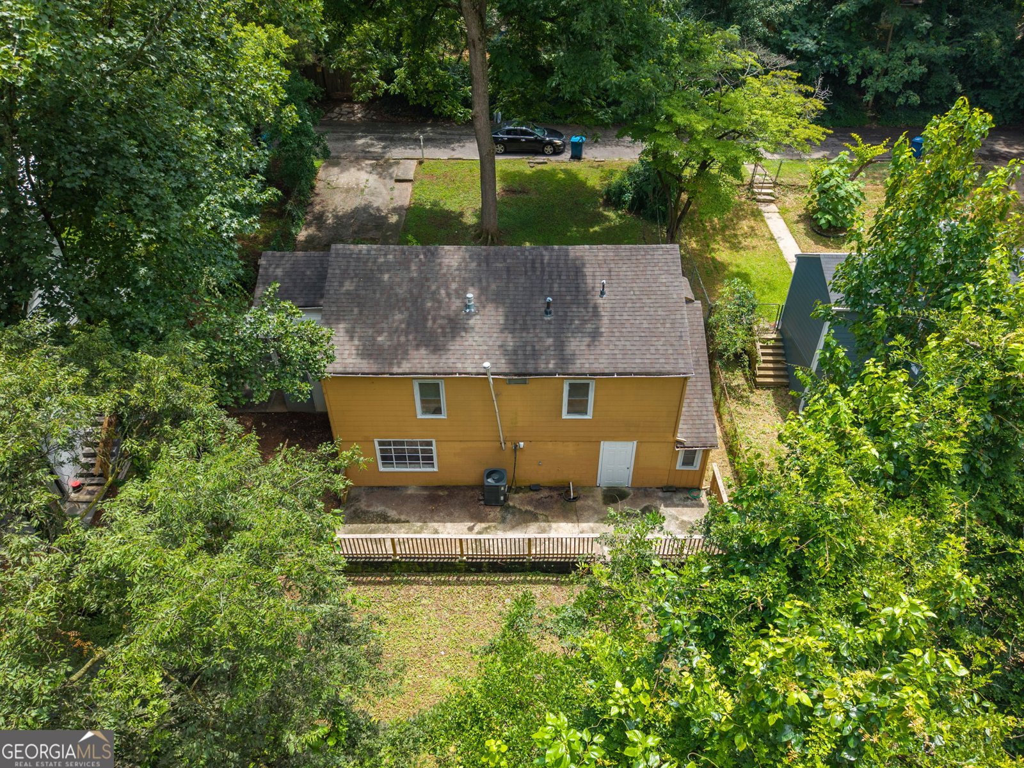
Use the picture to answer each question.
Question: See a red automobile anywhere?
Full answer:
No, there isn't any red automobile down there.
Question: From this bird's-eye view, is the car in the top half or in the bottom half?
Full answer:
It is in the top half that the car appears.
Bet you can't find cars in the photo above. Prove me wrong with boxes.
[493,118,566,154]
